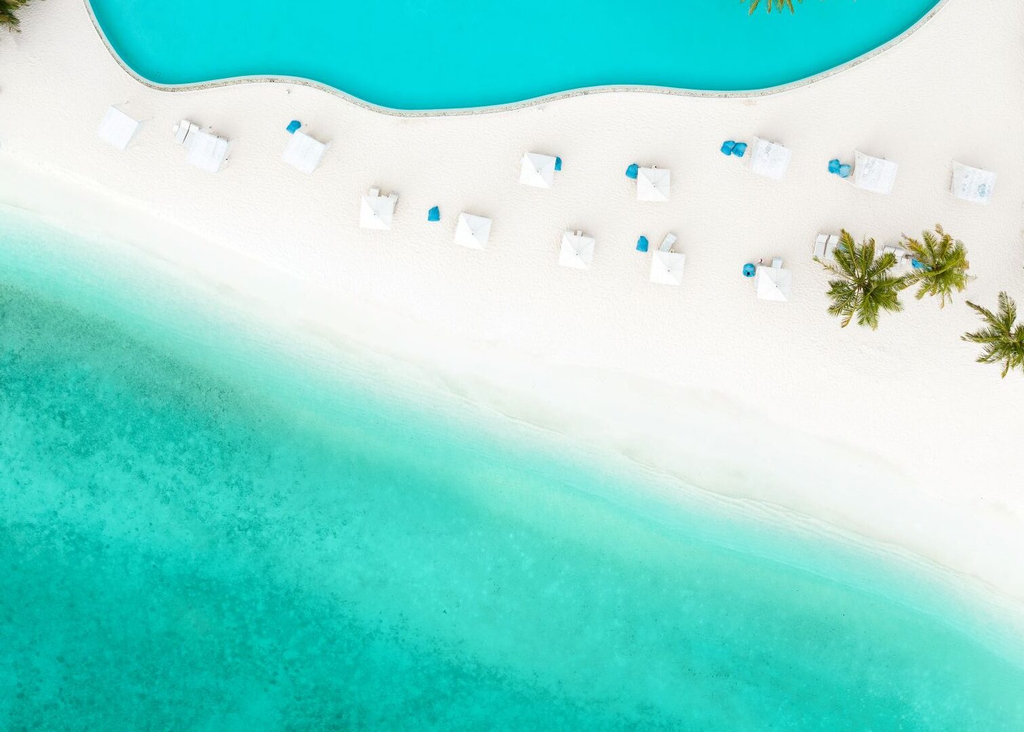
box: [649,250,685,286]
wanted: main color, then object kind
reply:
white umbrella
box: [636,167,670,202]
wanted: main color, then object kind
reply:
white umbrella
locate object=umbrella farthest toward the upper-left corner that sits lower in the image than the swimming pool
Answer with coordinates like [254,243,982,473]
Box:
[359,195,394,230]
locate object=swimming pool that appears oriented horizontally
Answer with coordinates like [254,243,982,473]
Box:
[81,0,951,117]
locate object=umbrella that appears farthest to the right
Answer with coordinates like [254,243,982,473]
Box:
[755,266,792,302]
